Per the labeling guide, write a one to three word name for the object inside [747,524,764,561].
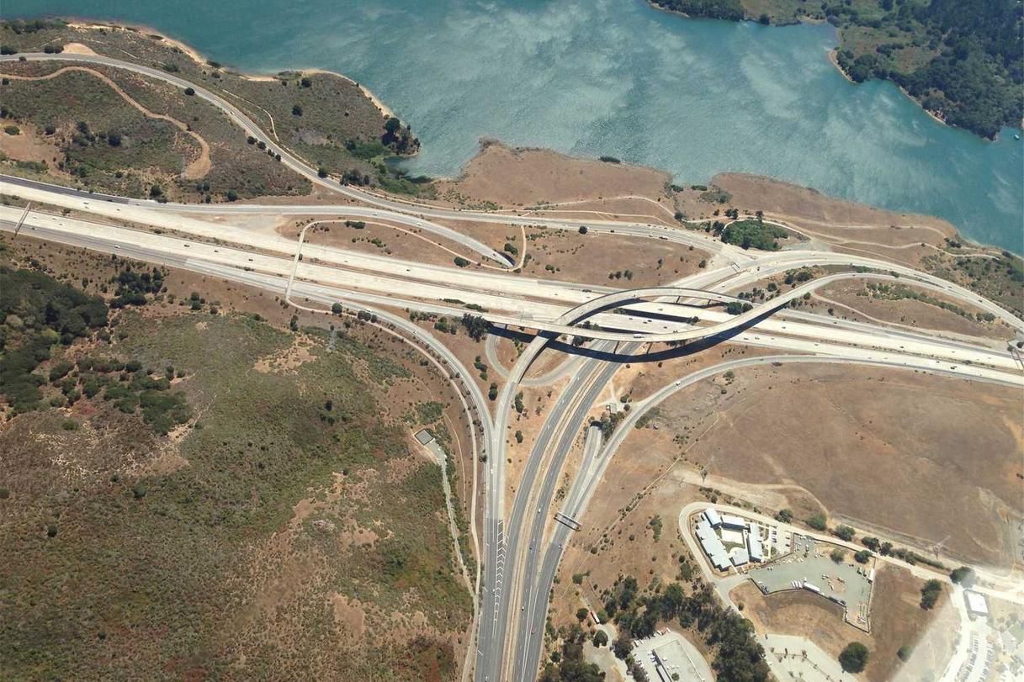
building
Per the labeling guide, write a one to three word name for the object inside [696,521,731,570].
building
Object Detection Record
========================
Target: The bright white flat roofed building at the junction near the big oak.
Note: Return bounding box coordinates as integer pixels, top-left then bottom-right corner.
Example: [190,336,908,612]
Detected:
[965,592,988,615]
